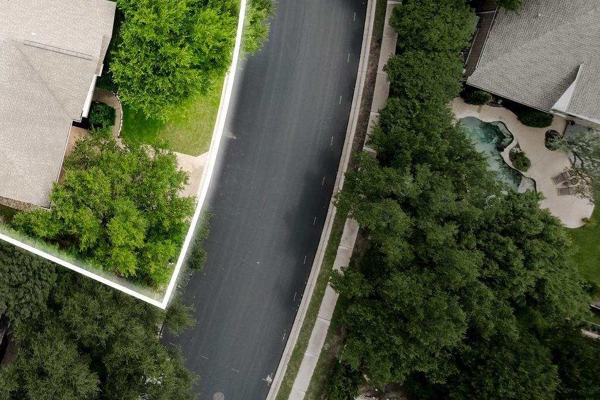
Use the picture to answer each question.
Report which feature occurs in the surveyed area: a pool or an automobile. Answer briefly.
pool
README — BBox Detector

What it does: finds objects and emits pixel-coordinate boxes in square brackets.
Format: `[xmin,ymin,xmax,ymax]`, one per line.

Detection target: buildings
[0,0,118,210]
[453,0,600,122]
